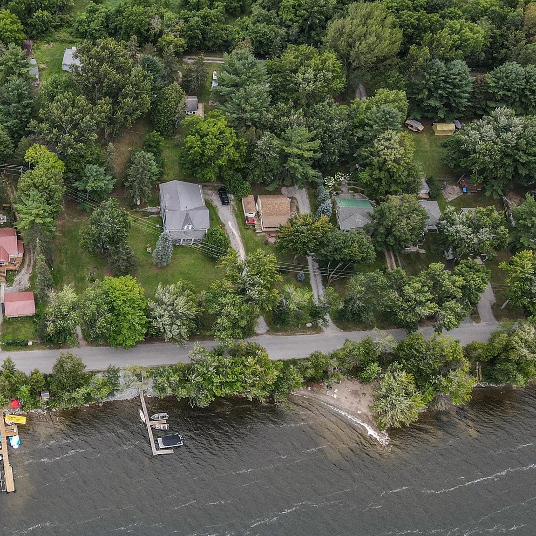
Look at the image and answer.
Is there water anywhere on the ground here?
Yes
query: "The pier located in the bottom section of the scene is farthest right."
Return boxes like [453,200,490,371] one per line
[140,390,174,455]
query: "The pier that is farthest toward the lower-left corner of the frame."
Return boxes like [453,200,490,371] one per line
[0,415,19,492]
